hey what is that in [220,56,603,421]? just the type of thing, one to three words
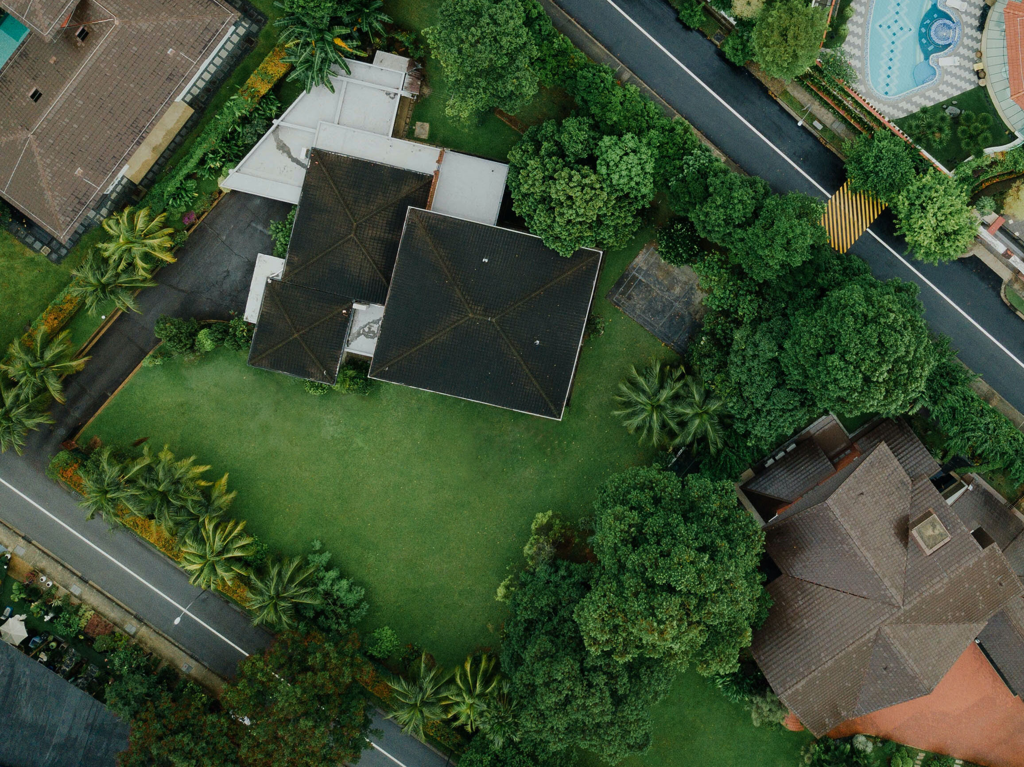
house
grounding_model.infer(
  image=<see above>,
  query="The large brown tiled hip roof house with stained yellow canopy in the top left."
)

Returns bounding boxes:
[0,0,241,243]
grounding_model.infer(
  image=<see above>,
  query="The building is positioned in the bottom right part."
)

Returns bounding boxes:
[737,413,1024,739]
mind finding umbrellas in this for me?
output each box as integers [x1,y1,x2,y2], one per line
[2,614,32,644]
